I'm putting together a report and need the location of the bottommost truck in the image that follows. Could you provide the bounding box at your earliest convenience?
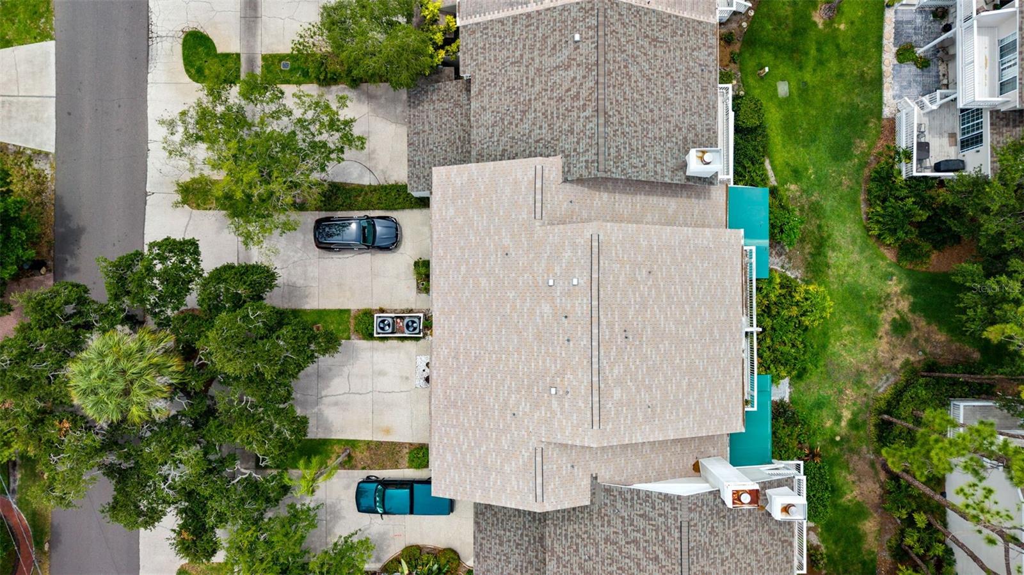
[355,476,455,520]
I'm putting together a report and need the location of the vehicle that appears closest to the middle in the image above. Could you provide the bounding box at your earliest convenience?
[315,214,401,255]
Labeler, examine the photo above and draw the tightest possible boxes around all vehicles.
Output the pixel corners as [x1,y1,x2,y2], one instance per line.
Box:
[355,476,455,520]
[315,214,401,255]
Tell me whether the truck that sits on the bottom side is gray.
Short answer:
No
